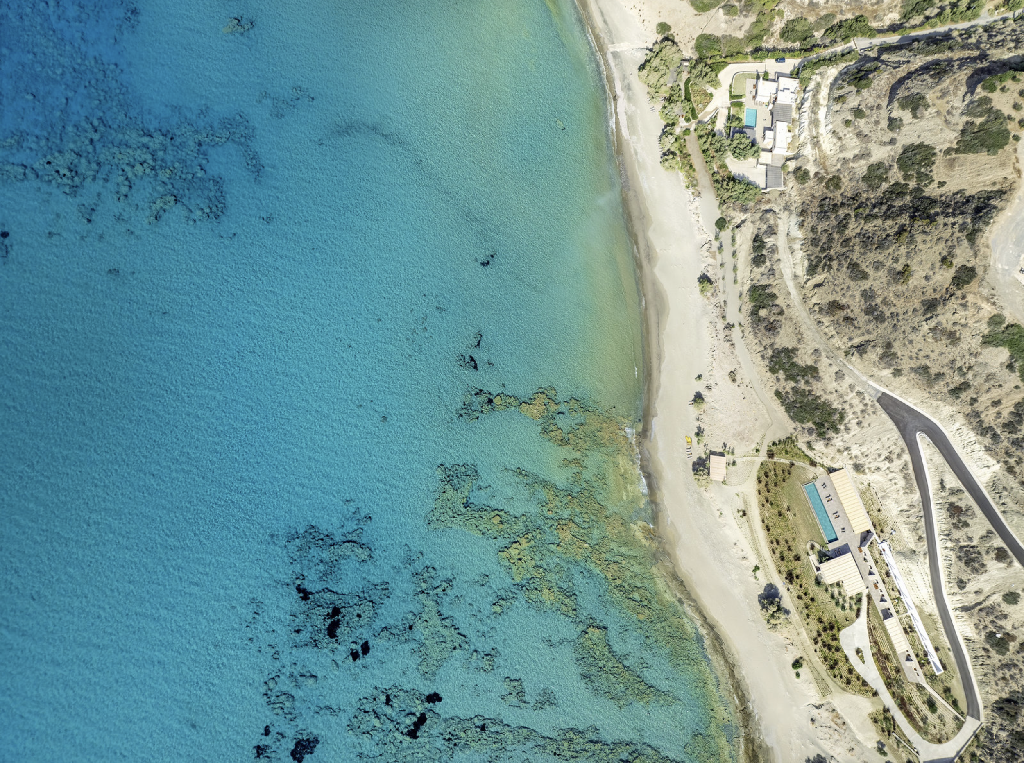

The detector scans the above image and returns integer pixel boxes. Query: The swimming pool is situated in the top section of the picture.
[745,107,758,128]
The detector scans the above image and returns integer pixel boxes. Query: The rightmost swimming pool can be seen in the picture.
[802,481,840,544]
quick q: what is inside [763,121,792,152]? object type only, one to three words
house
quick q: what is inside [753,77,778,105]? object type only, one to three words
house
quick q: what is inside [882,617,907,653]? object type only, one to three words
building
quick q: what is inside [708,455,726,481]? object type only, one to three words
shed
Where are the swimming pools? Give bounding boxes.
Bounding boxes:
[802,481,840,544]
[745,107,758,128]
